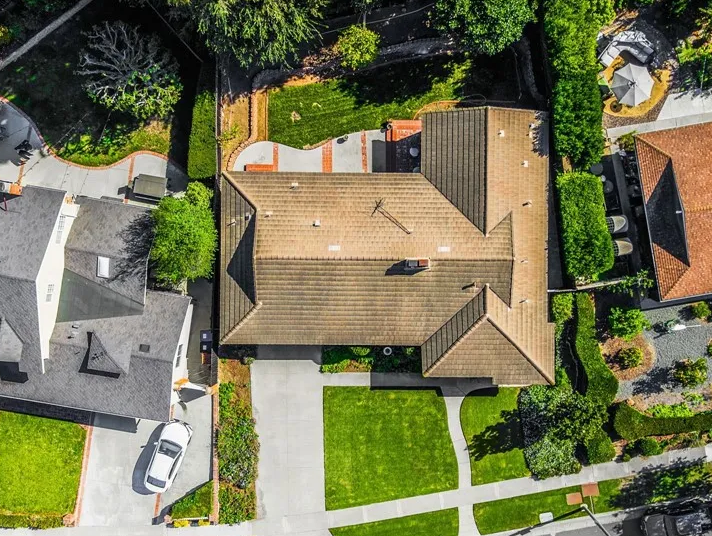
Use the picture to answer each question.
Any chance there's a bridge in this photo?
No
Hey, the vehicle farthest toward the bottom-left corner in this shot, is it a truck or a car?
car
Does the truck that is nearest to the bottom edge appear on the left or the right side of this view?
right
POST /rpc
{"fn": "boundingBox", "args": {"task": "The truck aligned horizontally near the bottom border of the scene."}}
[639,496,712,536]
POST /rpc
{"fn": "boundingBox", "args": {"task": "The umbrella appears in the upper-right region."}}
[609,66,650,108]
